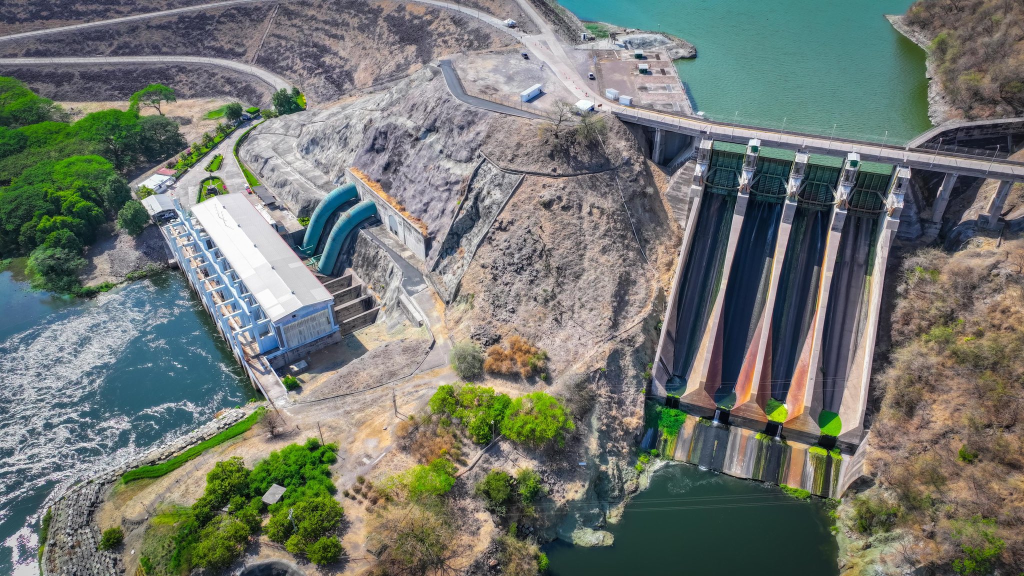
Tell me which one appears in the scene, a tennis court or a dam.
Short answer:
dam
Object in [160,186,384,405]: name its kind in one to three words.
building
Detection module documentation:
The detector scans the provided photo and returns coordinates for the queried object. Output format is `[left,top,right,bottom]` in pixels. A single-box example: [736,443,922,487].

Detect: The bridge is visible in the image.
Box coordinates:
[610,102,1024,240]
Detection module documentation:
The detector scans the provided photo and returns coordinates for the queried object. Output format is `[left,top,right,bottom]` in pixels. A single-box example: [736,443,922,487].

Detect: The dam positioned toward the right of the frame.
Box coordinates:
[633,142,905,503]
